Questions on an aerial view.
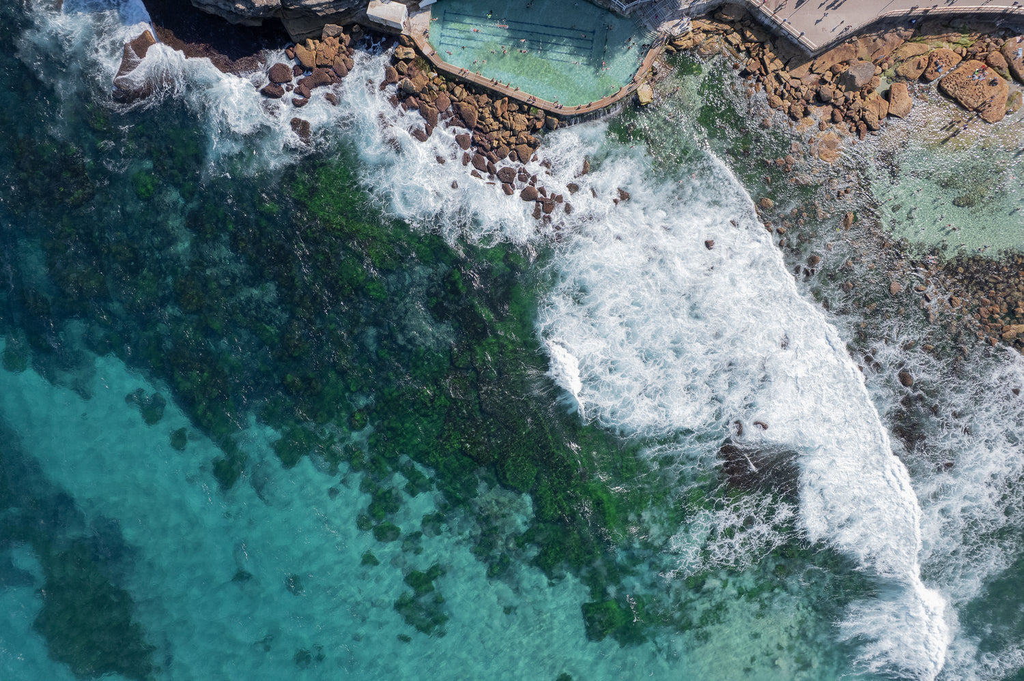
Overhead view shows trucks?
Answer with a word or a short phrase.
No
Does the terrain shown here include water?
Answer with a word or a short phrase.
Yes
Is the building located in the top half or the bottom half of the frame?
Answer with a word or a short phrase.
top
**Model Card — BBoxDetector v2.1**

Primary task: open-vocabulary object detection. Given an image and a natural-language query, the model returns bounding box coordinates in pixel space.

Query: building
[367,0,410,34]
